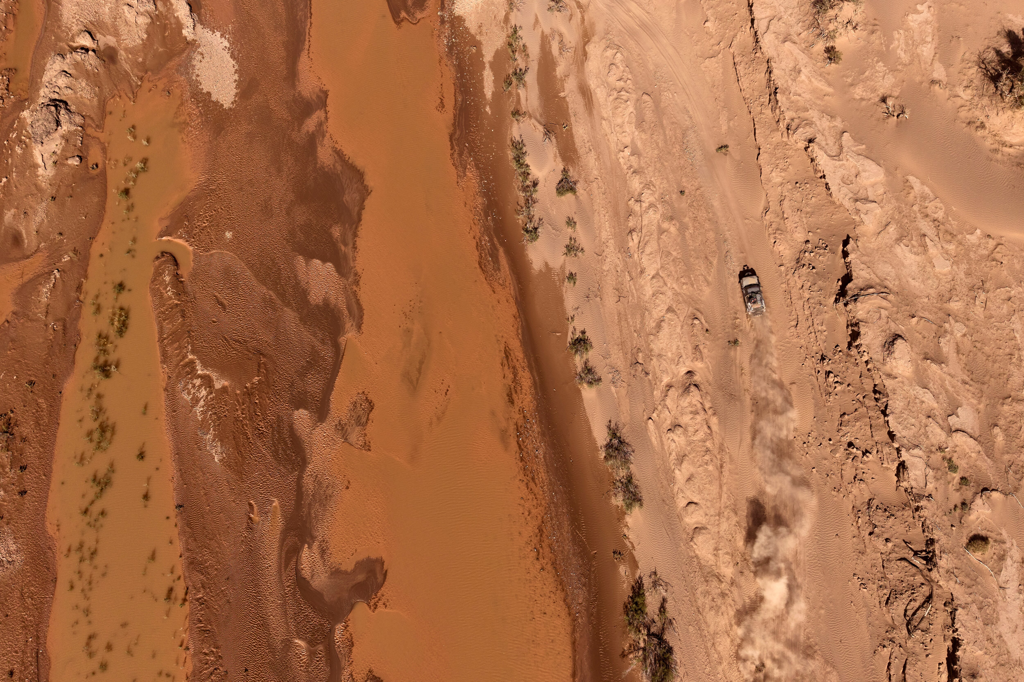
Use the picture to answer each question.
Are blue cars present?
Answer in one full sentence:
No, no blue car is visible in the view.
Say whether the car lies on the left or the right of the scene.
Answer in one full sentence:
The car is on the right side of the image.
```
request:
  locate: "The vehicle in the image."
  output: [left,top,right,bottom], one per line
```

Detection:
[738,274,765,318]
